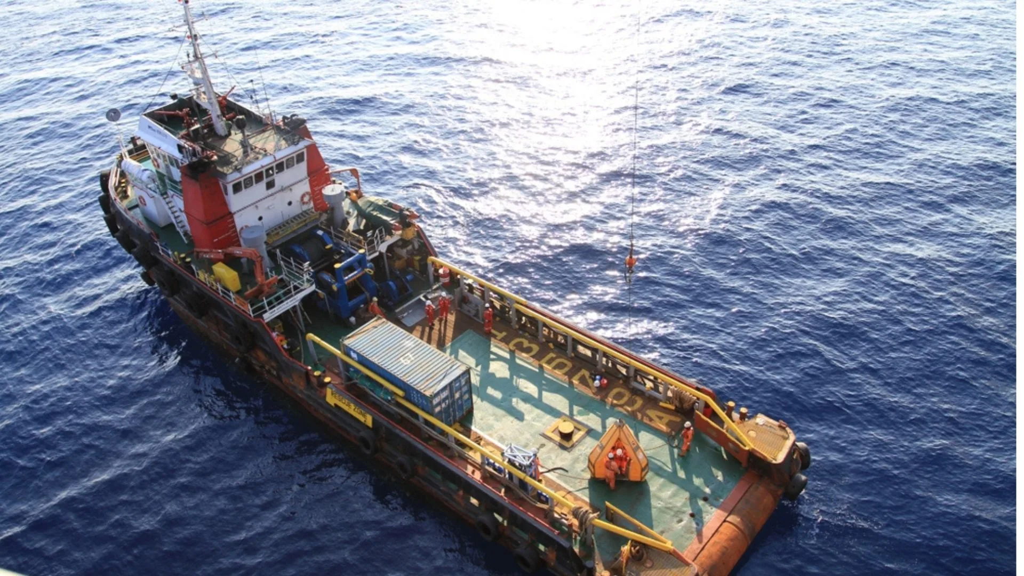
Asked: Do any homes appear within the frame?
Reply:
No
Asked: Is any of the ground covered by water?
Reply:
Yes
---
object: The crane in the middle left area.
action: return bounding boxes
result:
[195,238,295,301]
